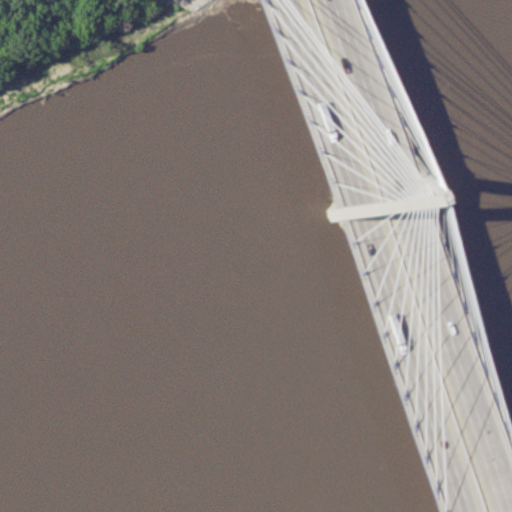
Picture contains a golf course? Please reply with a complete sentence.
No, the scene contains no golf course.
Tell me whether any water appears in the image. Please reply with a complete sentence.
Yes, there is water in the image.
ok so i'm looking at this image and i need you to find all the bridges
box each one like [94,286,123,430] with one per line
[262,0,512,512]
